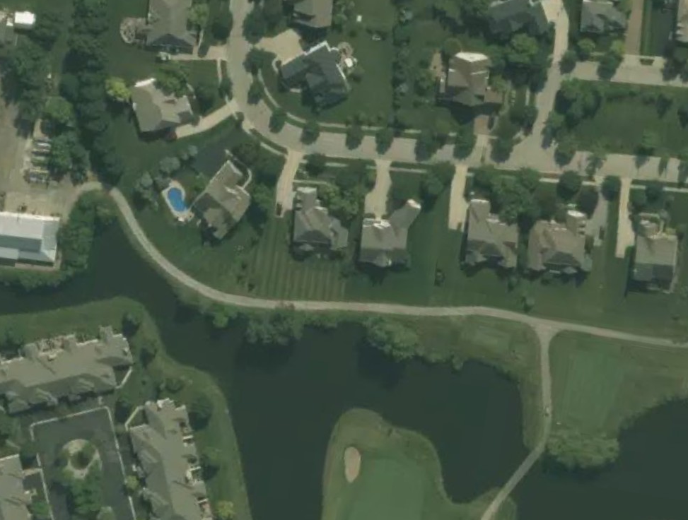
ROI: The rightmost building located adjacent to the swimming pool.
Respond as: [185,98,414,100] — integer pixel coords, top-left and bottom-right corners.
[195,157,257,240]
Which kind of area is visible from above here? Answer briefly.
residential area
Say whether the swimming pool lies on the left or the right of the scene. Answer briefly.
left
